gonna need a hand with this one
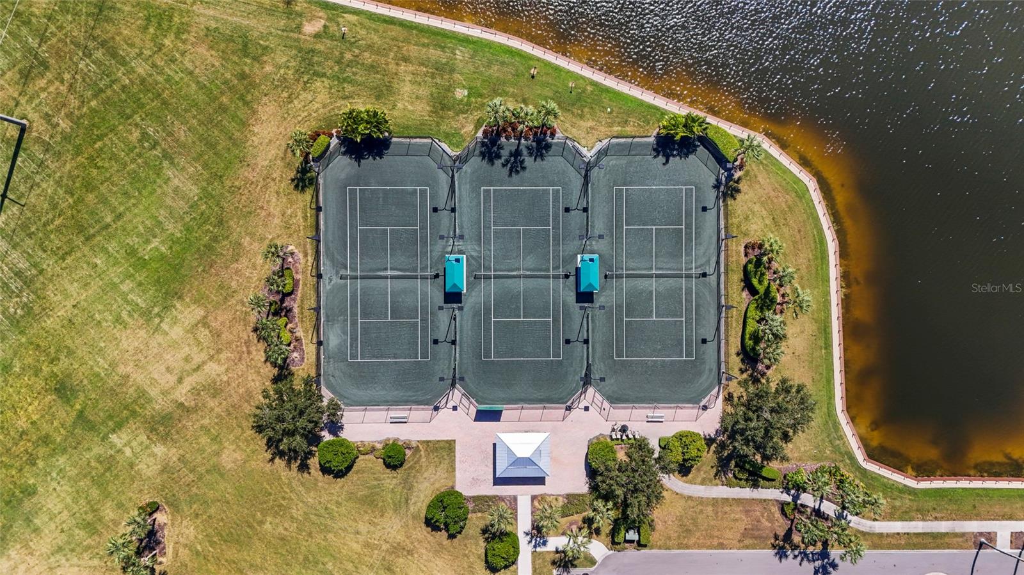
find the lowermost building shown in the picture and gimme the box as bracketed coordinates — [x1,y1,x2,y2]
[496,432,550,477]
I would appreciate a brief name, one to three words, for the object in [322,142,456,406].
tennis court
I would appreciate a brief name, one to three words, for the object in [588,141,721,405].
tennis court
